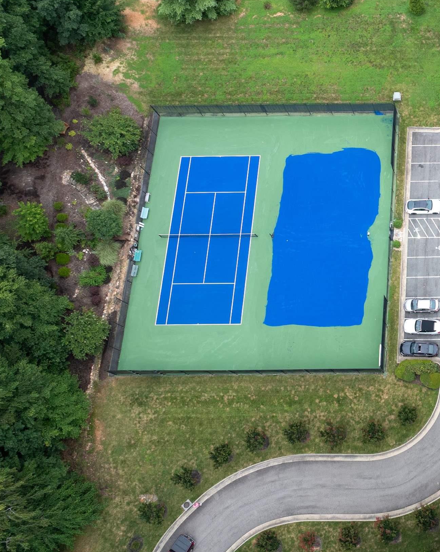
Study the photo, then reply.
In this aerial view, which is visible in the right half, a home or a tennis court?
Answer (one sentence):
What appears in the right half is a tennis court.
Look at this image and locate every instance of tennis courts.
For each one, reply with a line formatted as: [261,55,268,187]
[154,156,260,325]
[263,147,380,327]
